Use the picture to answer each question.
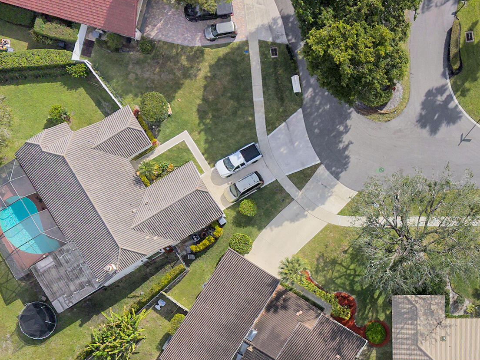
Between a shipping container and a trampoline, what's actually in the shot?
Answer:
trampoline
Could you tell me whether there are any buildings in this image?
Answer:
Yes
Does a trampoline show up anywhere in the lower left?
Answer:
Yes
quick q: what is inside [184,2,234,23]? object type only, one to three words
vehicle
